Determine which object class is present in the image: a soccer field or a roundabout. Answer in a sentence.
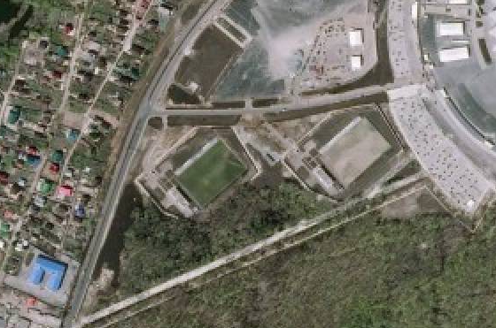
There is a soccer field in the scene.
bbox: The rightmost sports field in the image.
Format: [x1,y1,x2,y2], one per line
[321,120,390,188]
